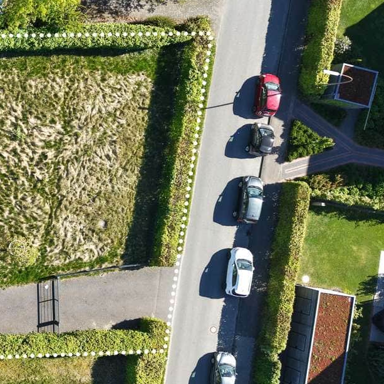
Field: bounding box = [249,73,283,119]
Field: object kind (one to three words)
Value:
car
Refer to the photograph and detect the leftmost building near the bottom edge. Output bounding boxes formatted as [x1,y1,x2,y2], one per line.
[281,284,355,384]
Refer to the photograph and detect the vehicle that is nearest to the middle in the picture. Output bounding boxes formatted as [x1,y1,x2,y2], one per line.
[233,174,267,227]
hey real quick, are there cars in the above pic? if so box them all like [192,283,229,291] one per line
[233,174,267,227]
[222,247,256,299]
[208,350,238,384]
[244,121,277,159]
[249,73,283,119]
